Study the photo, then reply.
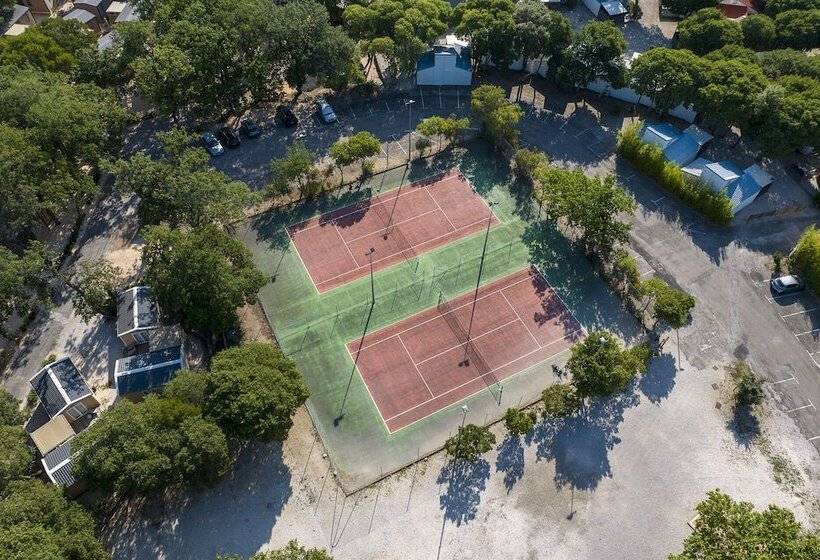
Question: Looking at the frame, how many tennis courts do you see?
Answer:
2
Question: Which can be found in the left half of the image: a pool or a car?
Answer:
car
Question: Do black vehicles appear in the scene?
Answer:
Yes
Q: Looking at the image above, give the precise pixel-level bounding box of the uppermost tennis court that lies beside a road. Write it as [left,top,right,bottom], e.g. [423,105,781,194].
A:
[230,138,558,340]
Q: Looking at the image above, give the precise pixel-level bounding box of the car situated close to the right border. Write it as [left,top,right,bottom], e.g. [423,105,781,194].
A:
[769,272,806,296]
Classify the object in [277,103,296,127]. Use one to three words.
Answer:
car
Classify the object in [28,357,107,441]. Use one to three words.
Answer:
building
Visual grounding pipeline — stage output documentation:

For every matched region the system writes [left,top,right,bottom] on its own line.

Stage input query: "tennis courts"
[279,226,656,494]
[230,138,558,340]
